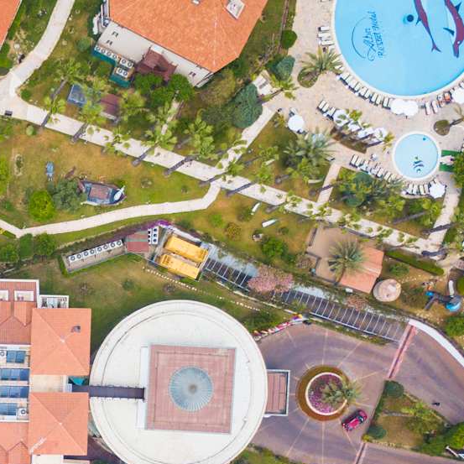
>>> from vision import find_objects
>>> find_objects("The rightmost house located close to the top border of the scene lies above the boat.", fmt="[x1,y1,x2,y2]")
[100,0,267,84]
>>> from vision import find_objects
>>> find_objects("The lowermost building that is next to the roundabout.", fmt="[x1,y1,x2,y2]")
[80,299,296,464]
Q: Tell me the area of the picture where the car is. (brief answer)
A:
bottom right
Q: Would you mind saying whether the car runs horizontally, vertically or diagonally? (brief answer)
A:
diagonally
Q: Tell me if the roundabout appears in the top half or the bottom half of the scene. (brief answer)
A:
bottom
